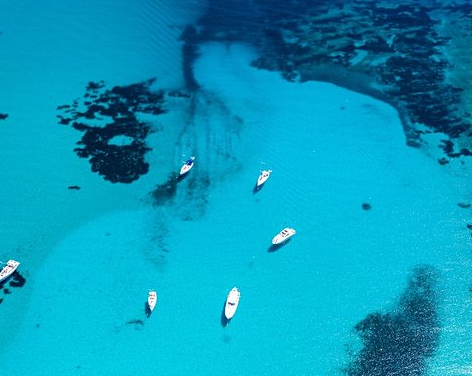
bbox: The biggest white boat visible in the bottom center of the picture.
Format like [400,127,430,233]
[225,287,241,320]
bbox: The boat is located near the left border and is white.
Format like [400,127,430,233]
[0,254,19,283]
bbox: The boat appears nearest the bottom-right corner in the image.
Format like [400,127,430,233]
[274,229,299,245]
